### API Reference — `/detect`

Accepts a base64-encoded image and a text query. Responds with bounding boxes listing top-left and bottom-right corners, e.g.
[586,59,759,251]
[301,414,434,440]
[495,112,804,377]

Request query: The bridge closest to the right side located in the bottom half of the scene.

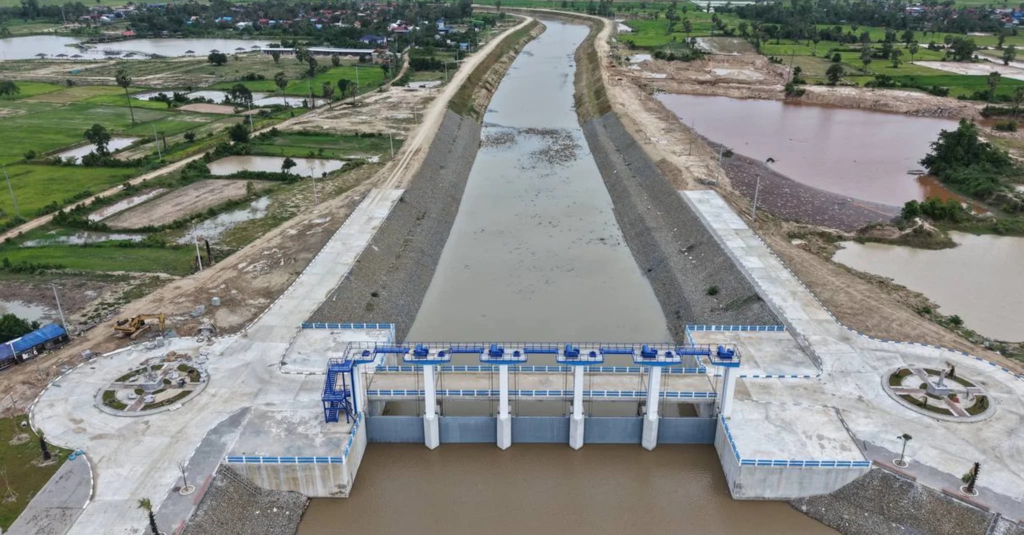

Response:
[375,370,711,405]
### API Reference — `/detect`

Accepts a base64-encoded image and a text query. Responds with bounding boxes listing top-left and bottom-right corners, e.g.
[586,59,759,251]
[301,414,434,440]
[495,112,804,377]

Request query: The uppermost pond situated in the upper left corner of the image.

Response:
[0,34,285,60]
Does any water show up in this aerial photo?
Yes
